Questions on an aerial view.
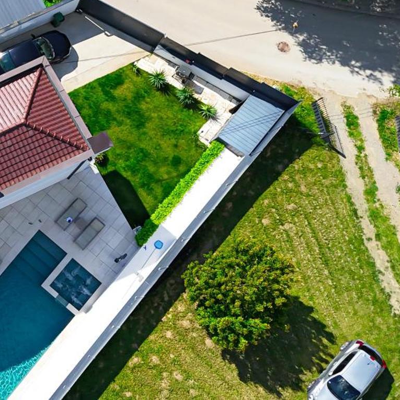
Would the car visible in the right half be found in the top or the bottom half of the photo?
bottom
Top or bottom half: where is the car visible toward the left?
top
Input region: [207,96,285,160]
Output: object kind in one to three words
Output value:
shed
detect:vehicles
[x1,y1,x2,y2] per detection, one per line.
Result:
[0,33,73,77]
[308,343,390,400]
